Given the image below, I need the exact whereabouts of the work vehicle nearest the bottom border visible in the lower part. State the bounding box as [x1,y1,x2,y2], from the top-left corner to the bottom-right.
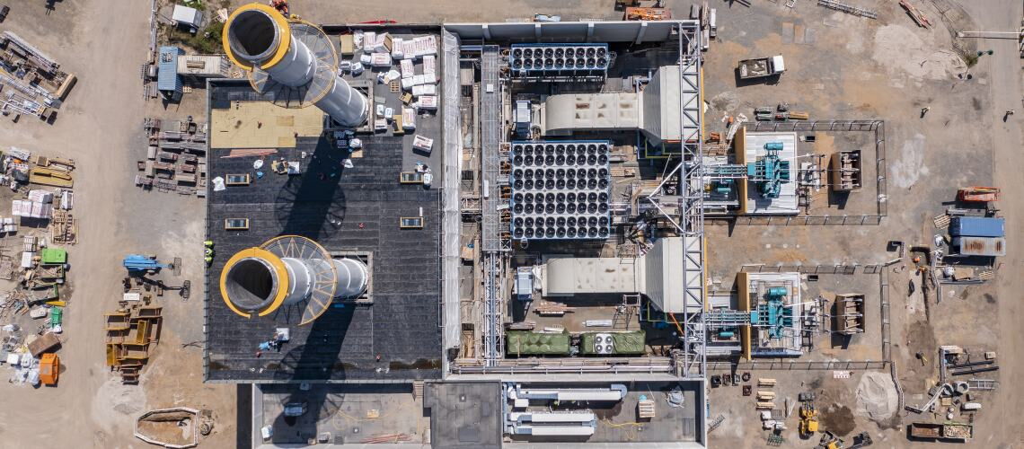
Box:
[815,425,846,449]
